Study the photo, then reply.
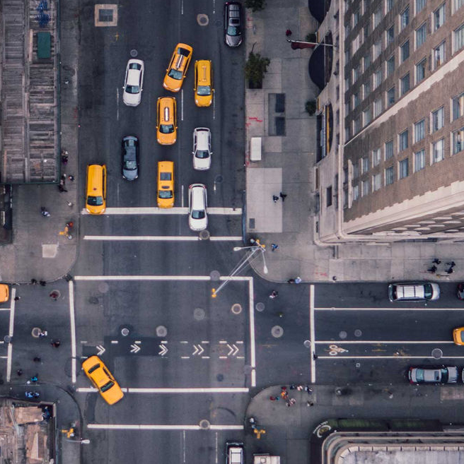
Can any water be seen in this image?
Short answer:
No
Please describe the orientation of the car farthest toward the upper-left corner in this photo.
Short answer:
up and down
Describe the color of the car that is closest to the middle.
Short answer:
white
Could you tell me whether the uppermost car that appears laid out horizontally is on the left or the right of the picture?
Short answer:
right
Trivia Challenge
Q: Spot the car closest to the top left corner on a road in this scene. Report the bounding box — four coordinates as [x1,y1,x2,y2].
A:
[122,59,144,107]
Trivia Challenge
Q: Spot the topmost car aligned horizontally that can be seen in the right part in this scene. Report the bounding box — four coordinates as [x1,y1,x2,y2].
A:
[388,280,440,304]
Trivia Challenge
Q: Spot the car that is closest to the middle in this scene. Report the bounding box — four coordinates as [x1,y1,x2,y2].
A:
[186,183,209,232]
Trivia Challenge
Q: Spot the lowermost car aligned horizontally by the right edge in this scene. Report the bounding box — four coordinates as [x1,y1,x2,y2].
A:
[408,365,457,388]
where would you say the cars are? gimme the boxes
[0,283,10,304]
[222,1,244,49]
[191,127,212,171]
[224,442,244,464]
[84,165,107,215]
[192,60,214,108]
[155,161,176,209]
[164,41,192,96]
[119,135,140,181]
[83,354,123,407]
[388,280,440,304]
[186,183,209,232]
[452,326,464,346]
[122,59,144,107]
[155,96,177,146]
[408,365,457,388]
